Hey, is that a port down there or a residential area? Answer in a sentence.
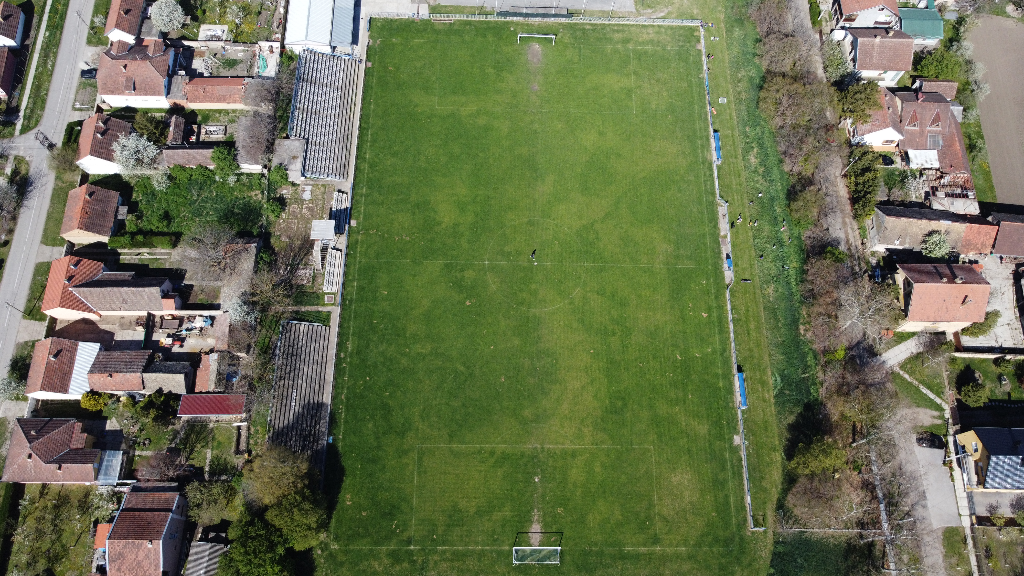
What you see here is a residential area.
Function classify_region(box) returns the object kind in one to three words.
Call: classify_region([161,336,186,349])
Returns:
vehicle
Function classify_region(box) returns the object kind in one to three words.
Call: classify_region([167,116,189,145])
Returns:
shed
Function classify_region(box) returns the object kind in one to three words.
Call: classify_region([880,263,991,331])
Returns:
house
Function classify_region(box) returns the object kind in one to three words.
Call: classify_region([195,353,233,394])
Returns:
barn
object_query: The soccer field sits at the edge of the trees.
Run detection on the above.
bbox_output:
[315,18,761,576]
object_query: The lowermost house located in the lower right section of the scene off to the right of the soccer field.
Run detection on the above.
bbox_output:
[948,427,1024,491]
